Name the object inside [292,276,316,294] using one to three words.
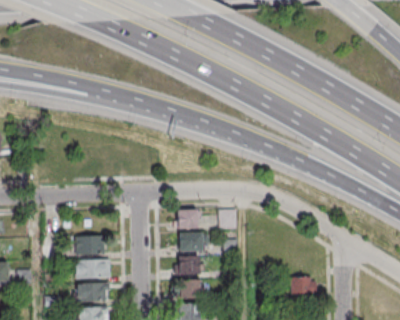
house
